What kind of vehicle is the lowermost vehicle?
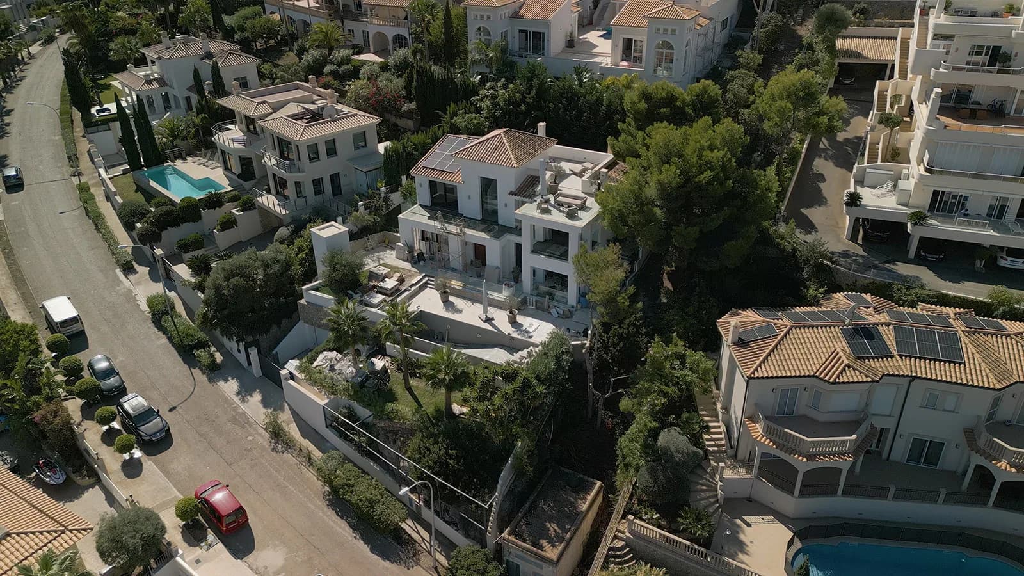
car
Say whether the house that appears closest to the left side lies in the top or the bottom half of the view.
bottom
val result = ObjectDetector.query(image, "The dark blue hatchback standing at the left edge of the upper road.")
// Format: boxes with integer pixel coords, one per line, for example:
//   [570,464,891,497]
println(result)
[0,162,23,183]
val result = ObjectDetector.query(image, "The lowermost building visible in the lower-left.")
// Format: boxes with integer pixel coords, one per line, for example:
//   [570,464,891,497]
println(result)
[0,465,96,576]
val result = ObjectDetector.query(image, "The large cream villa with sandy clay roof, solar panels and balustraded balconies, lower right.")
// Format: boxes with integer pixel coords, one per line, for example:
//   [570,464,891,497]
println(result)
[709,289,1024,510]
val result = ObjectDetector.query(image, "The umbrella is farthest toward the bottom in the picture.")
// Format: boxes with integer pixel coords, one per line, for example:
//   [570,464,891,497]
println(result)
[477,279,496,324]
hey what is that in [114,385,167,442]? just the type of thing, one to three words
car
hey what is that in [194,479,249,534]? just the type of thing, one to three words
car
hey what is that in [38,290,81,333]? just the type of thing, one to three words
van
